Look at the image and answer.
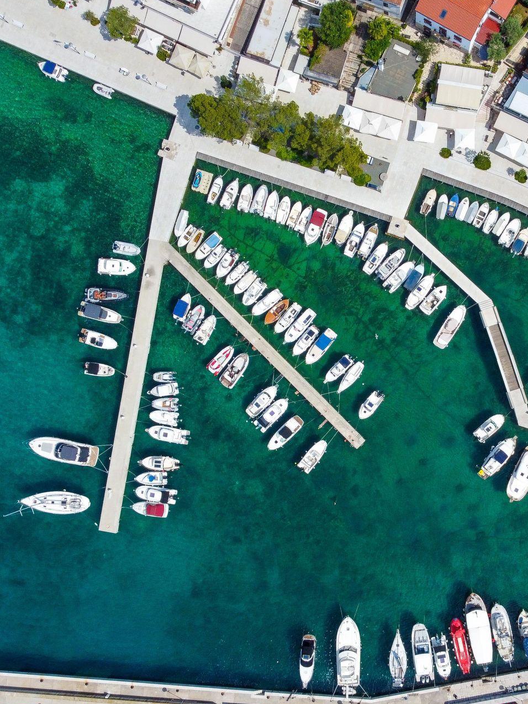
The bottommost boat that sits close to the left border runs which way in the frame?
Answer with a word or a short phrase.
horizontally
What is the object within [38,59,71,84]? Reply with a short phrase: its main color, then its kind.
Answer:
white boat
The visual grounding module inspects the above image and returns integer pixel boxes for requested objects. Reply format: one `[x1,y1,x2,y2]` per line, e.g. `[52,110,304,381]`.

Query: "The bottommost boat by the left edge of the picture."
[1,492,93,523]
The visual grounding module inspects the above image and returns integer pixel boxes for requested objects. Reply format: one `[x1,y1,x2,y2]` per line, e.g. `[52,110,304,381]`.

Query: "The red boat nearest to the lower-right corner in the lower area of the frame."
[451,619,474,676]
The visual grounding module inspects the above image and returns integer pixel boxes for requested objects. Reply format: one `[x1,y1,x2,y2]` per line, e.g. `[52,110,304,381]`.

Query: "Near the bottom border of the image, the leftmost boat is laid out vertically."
[299,633,316,691]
